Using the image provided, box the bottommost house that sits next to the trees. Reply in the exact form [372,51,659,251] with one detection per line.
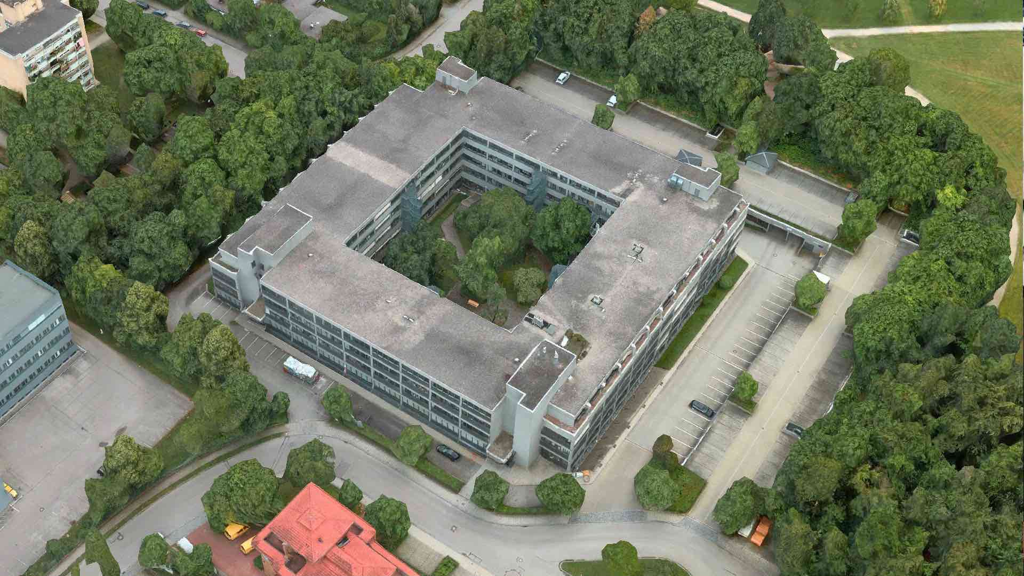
[255,483,419,576]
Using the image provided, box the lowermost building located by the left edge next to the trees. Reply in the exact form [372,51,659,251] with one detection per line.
[0,269,77,422]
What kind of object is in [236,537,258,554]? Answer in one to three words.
car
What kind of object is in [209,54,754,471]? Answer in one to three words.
building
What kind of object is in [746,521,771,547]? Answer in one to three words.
truck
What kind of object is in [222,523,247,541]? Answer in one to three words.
car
